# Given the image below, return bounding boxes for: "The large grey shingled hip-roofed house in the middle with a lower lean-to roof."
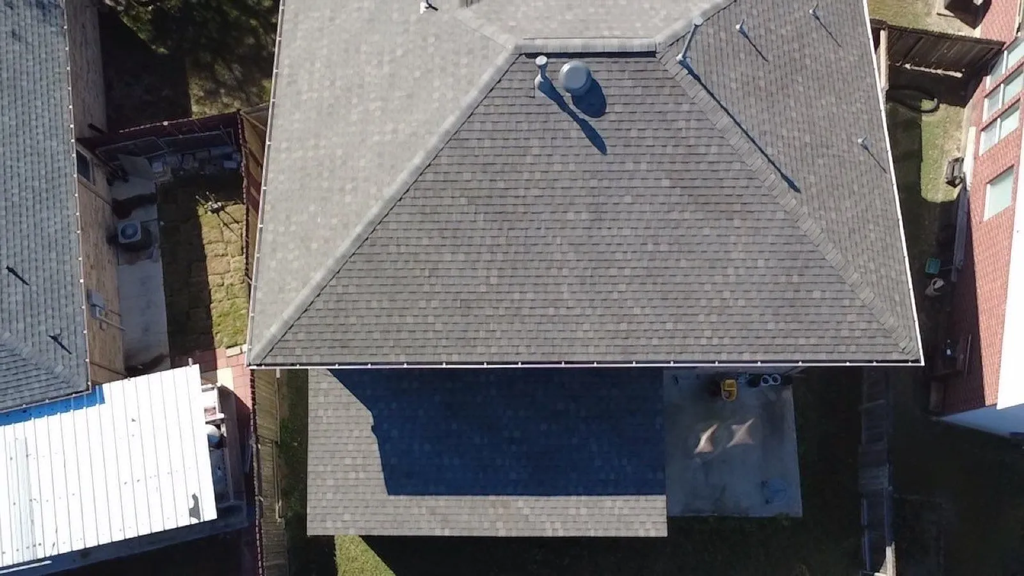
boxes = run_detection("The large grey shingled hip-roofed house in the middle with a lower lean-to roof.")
[244,0,923,537]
